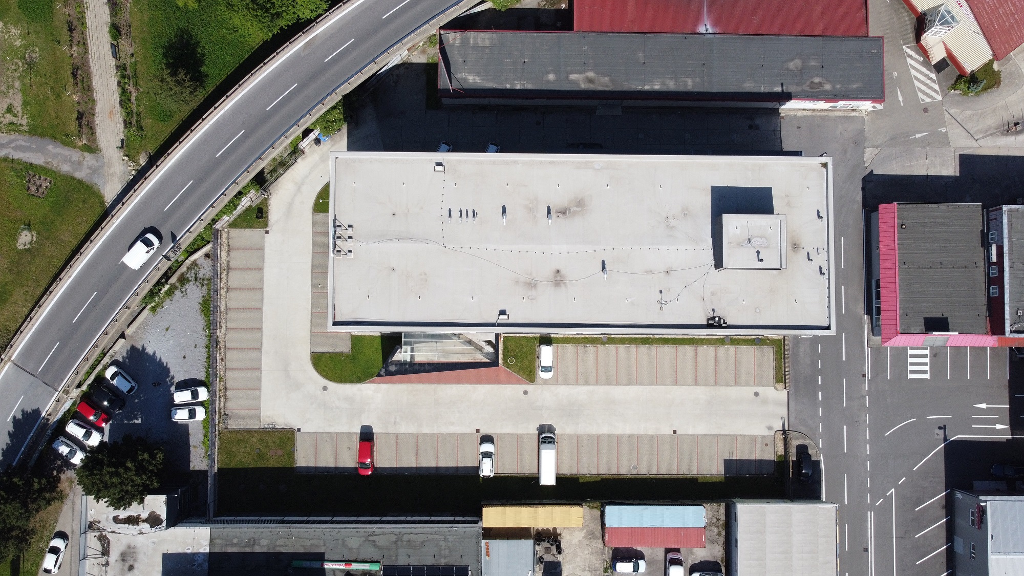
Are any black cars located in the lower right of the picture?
Yes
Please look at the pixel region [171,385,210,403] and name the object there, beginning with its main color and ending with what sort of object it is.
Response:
white car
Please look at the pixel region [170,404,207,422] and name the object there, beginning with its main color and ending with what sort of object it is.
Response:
white car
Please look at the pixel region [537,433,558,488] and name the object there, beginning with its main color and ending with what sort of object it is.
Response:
white truck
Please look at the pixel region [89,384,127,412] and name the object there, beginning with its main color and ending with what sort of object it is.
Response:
black car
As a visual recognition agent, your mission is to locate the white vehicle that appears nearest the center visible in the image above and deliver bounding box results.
[538,344,555,379]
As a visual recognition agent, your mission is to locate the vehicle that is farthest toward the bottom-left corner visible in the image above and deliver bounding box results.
[42,532,70,573]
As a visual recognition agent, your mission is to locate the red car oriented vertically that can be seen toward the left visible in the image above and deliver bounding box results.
[357,440,374,475]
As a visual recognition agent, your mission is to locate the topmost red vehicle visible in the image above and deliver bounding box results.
[74,399,113,427]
